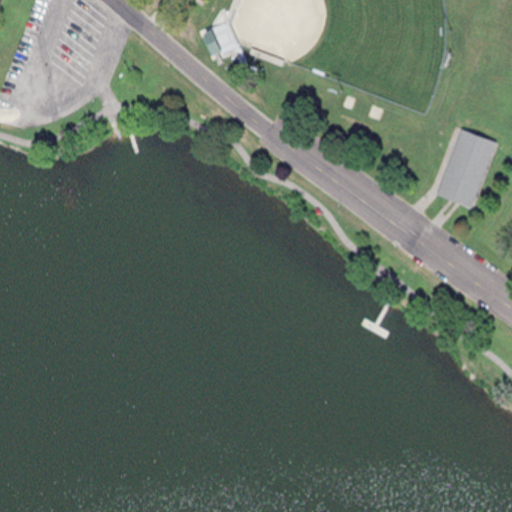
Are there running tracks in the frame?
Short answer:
No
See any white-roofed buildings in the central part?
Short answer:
No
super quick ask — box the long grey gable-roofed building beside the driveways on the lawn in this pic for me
[437,128,498,208]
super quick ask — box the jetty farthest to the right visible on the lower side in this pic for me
[362,304,390,340]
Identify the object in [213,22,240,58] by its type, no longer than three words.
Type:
building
